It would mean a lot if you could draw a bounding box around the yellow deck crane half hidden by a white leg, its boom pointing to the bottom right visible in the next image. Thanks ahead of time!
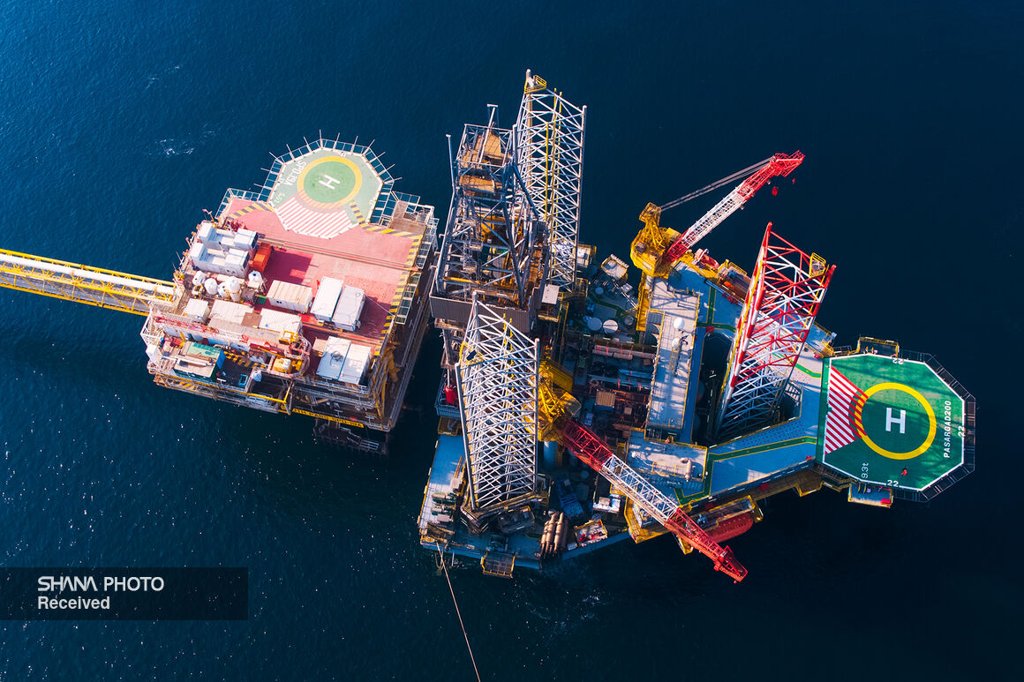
[510,351,749,584]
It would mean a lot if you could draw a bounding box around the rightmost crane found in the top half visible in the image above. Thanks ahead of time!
[619,147,807,324]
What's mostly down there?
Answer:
water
